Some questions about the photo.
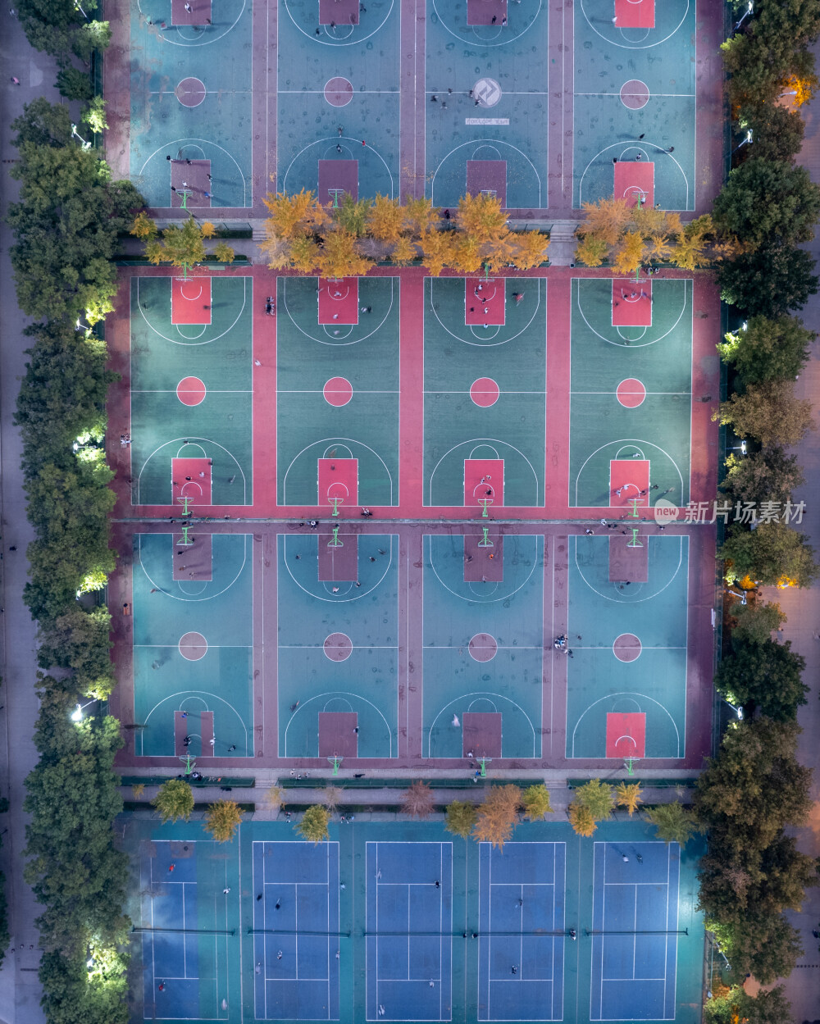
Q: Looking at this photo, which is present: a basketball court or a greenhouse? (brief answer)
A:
basketball court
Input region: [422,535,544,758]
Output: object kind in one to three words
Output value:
basketball court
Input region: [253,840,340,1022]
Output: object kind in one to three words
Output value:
tennis court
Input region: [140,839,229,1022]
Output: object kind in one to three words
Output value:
tennis court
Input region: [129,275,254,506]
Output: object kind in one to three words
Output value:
basketball court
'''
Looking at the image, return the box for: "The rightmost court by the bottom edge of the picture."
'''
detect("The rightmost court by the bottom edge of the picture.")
[589,840,679,1022]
